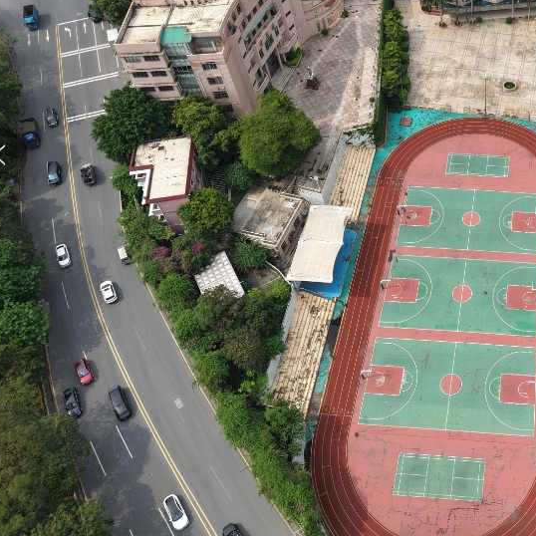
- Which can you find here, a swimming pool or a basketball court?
basketball court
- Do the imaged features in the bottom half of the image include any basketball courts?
Yes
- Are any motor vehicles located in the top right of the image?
No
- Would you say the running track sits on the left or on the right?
right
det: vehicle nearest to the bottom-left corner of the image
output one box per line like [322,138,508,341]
[62,388,83,417]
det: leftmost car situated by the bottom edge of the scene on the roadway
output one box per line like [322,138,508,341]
[163,494,190,530]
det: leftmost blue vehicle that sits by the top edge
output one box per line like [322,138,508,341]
[23,6,38,27]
